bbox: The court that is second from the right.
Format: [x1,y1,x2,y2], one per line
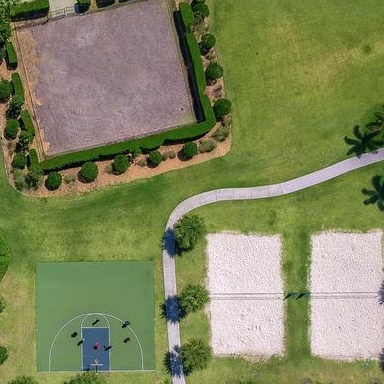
[205,230,288,361]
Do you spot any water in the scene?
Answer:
No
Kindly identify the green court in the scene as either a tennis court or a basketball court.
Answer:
basketball court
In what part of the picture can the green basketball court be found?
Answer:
bottom left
